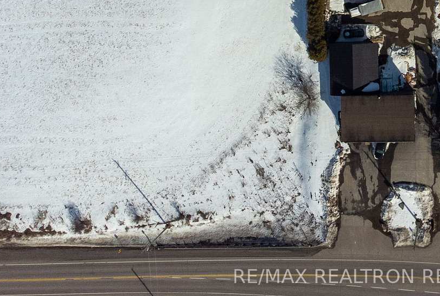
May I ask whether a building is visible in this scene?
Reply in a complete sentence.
Yes, I can see a building in this picture.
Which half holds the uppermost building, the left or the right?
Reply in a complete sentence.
You can find the uppermost building on the right side of the picture.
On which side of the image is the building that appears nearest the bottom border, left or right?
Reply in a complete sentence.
It is on the right.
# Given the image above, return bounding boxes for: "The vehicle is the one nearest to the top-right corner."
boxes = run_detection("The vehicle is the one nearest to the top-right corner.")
[349,0,384,19]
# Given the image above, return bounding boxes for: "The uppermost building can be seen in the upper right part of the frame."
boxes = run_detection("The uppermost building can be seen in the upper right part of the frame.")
[330,41,379,96]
